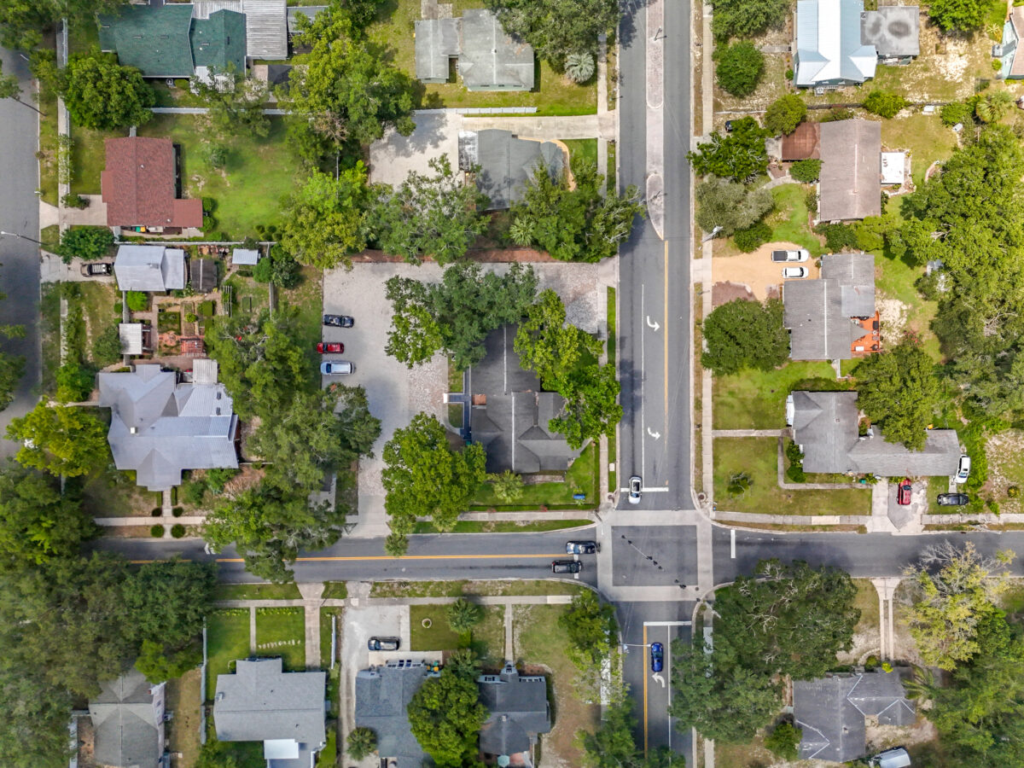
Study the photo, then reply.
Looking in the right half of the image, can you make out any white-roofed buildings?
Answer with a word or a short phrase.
Yes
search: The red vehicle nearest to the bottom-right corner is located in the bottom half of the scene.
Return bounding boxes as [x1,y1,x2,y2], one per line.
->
[895,478,913,504]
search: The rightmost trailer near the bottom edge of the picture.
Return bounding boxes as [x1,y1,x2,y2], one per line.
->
[865,744,911,768]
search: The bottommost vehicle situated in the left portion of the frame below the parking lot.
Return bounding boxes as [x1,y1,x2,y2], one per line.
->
[369,635,400,651]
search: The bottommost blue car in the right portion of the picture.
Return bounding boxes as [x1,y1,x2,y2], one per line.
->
[650,642,664,671]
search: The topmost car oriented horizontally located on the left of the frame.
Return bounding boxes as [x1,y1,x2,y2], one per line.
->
[83,262,114,276]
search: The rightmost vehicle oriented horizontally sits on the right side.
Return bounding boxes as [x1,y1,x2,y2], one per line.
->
[935,492,966,507]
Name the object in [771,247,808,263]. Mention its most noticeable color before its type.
white vehicle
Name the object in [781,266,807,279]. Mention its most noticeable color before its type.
white vehicle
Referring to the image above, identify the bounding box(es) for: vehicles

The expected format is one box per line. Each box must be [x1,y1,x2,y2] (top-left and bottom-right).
[369,635,400,651]
[628,475,642,503]
[952,455,973,482]
[318,341,345,354]
[895,478,913,504]
[321,360,353,375]
[83,262,114,276]
[552,559,581,574]
[781,266,807,279]
[324,314,354,328]
[771,247,808,263]
[935,492,966,507]
[650,642,664,671]
[206,542,223,556]
[566,539,597,555]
